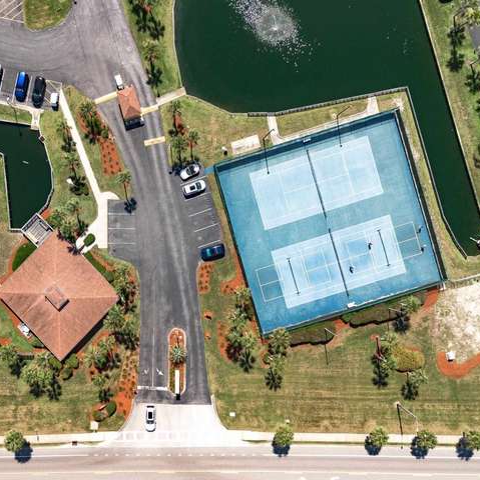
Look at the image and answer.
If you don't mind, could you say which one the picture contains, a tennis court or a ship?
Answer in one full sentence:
Visible in the photo is a tennis court.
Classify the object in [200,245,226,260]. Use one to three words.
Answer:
car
